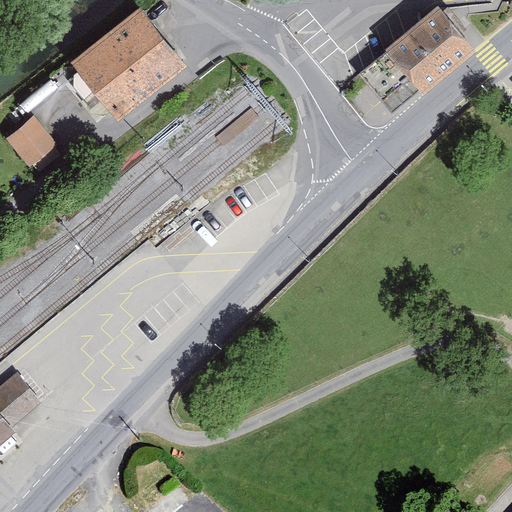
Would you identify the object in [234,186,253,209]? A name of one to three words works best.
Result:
car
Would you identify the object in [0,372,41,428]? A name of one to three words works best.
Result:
shed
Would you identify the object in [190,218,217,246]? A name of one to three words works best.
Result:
vehicle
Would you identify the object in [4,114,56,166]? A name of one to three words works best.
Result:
barn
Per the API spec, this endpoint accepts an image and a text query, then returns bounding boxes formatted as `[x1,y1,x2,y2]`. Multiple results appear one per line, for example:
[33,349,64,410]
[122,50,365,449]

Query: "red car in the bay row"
[224,195,244,217]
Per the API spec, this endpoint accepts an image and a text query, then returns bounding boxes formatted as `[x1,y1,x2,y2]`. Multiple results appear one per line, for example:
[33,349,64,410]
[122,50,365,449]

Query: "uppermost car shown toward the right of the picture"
[368,36,384,58]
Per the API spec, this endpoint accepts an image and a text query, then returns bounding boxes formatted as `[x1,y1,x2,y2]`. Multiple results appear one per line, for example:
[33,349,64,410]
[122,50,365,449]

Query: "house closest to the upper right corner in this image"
[386,4,478,94]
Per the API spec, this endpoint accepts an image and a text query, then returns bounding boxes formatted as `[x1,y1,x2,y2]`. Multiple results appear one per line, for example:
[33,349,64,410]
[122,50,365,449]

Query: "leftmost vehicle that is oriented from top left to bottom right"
[138,320,157,340]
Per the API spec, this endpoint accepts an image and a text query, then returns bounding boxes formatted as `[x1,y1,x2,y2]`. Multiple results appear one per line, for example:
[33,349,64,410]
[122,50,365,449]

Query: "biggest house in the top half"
[70,6,187,121]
